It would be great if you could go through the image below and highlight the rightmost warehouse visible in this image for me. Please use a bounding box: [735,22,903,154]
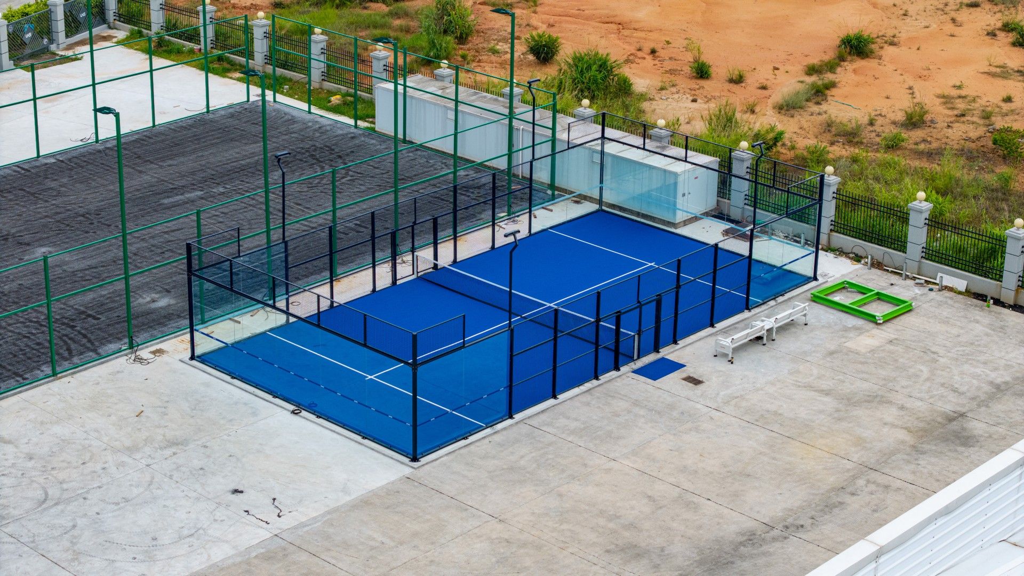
[803,440,1024,576]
